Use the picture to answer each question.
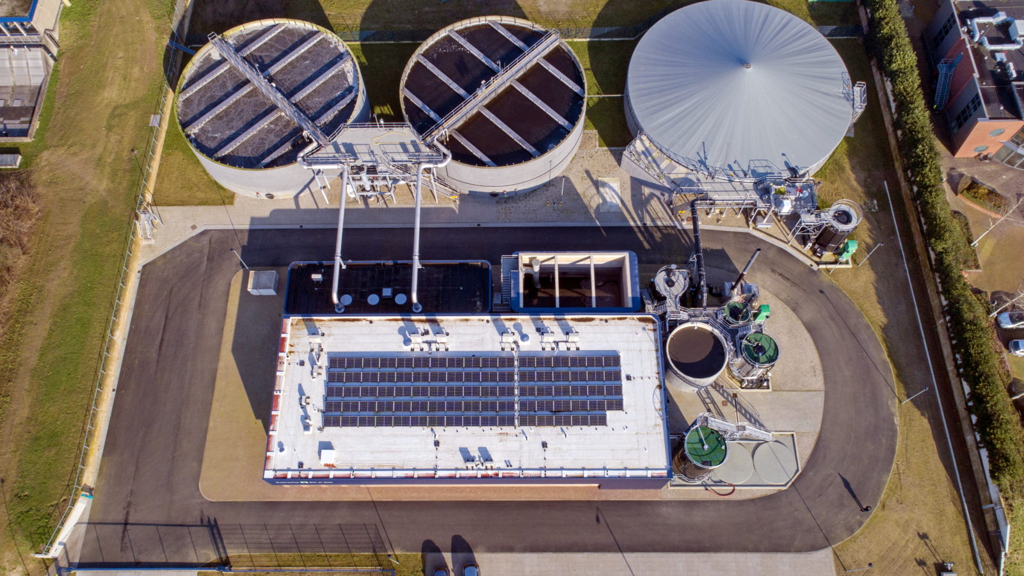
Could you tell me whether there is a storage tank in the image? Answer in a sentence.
Yes, there's a storage tank down there.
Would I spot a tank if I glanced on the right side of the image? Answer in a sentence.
Yes, the scene does show a tank on the right side of the image.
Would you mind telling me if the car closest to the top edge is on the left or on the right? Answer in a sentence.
The car closest to the top edge sits on the right side.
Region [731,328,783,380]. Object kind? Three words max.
storage tank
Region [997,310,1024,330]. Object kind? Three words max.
car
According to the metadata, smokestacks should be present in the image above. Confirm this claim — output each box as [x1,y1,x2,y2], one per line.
[730,245,770,310]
